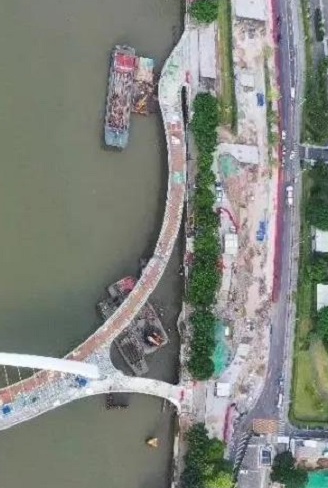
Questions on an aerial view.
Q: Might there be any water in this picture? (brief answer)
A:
Yes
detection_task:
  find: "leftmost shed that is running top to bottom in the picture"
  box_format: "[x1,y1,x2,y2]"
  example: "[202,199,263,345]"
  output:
[197,28,217,81]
